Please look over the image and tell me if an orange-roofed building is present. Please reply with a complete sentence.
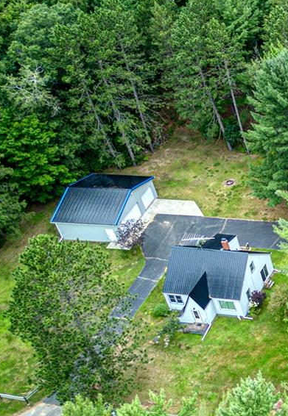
No, no orange-roofed building is visible in the view.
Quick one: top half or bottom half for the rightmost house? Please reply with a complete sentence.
You can find the rightmost house in the bottom half.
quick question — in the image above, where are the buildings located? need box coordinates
[50,174,153,242]
[163,228,282,339]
